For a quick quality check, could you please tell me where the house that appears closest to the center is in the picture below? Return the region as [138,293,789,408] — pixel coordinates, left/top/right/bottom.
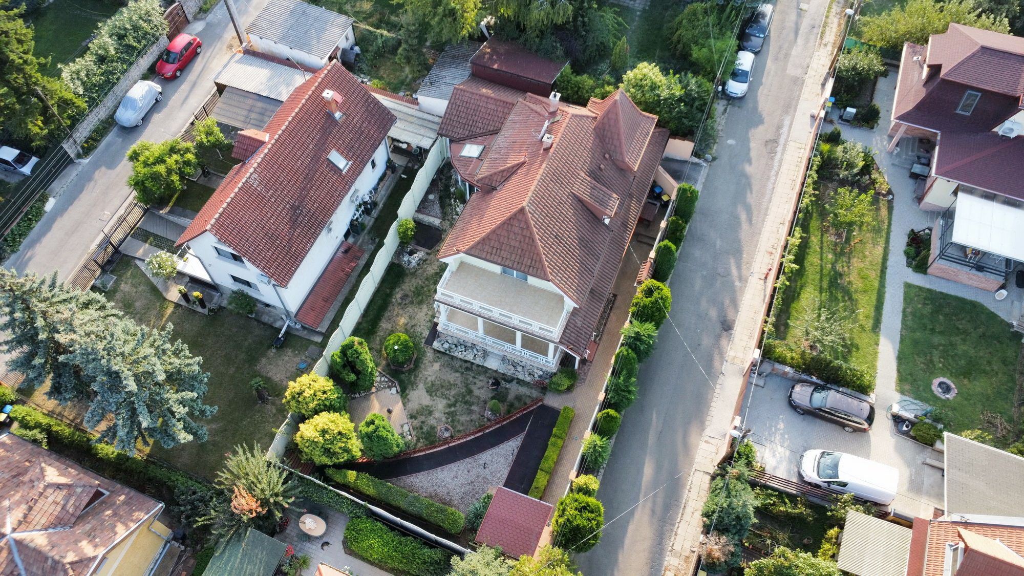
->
[432,75,676,369]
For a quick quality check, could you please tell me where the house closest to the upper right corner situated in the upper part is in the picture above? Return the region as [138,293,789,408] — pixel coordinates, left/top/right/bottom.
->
[876,0,1024,239]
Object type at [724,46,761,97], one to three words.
car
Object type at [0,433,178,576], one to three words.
house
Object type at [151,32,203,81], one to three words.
car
